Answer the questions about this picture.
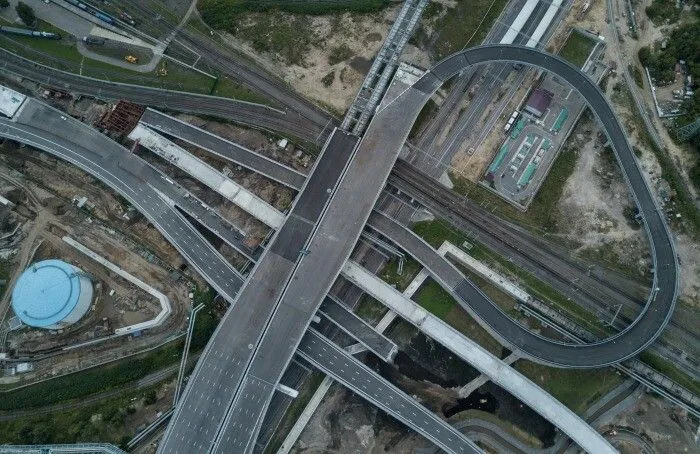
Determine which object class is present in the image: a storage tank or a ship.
storage tank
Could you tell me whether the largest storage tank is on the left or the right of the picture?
left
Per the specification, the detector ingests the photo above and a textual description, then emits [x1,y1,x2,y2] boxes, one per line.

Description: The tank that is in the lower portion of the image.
[10,258,92,328]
